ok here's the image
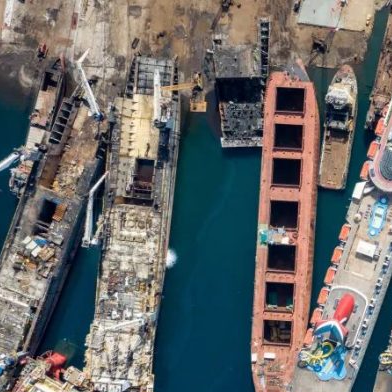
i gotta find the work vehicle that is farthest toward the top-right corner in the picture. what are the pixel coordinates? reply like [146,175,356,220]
[302,39,324,68]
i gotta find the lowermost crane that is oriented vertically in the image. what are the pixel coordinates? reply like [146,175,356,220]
[81,170,113,248]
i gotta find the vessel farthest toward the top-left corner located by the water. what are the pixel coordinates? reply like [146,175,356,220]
[12,51,69,196]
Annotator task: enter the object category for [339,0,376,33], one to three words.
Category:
shed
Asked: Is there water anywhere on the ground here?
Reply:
Yes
